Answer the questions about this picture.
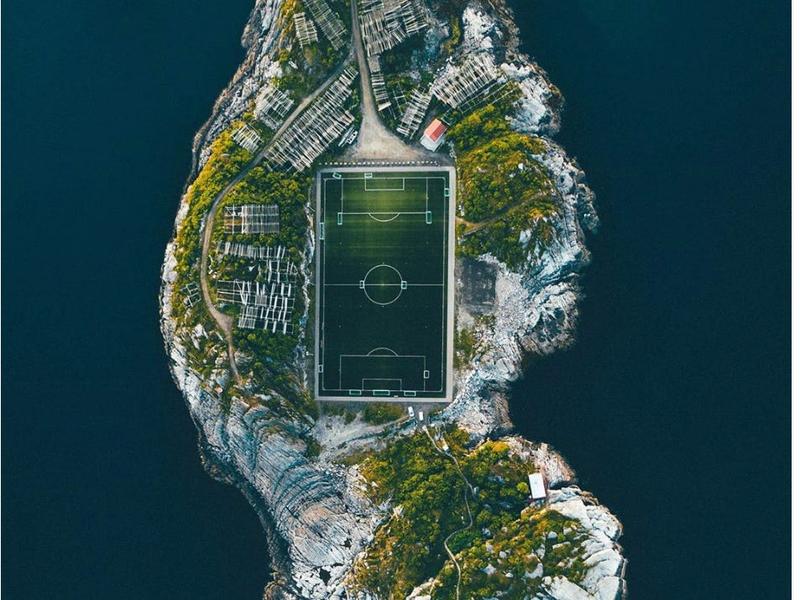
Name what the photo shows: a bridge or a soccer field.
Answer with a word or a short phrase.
soccer field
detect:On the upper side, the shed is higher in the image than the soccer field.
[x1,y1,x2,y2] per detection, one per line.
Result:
[421,116,448,145]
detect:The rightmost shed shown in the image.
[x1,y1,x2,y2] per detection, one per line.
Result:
[530,473,550,501]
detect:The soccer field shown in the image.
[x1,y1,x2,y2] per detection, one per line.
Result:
[316,166,455,402]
